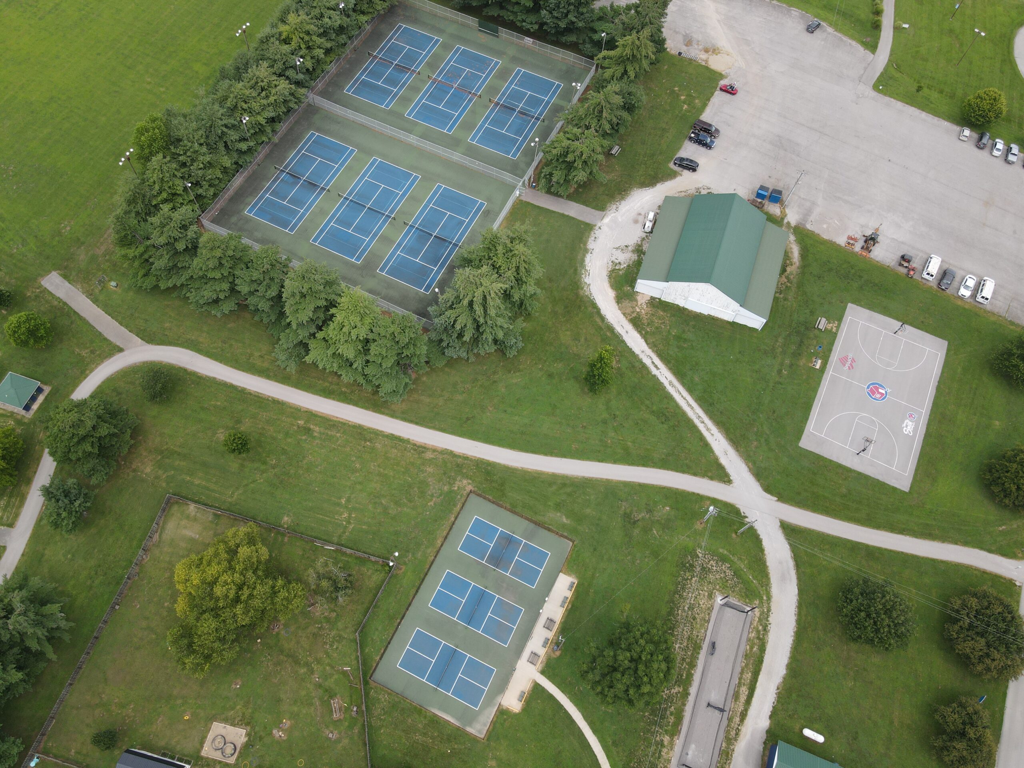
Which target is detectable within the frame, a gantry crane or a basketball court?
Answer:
basketball court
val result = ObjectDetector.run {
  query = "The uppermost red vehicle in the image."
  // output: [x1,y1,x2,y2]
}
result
[719,82,739,95]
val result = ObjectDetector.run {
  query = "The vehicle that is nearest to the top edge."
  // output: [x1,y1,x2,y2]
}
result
[807,20,821,34]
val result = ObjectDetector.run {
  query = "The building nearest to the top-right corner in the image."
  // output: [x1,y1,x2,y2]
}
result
[634,193,789,331]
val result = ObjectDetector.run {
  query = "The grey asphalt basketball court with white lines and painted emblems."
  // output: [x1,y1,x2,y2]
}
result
[799,303,948,491]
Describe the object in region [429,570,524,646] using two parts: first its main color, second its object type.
blue sports court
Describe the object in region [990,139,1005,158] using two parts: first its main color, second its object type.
white car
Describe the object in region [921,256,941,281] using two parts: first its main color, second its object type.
white vehicle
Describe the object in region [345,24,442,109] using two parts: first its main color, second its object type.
blue tennis court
